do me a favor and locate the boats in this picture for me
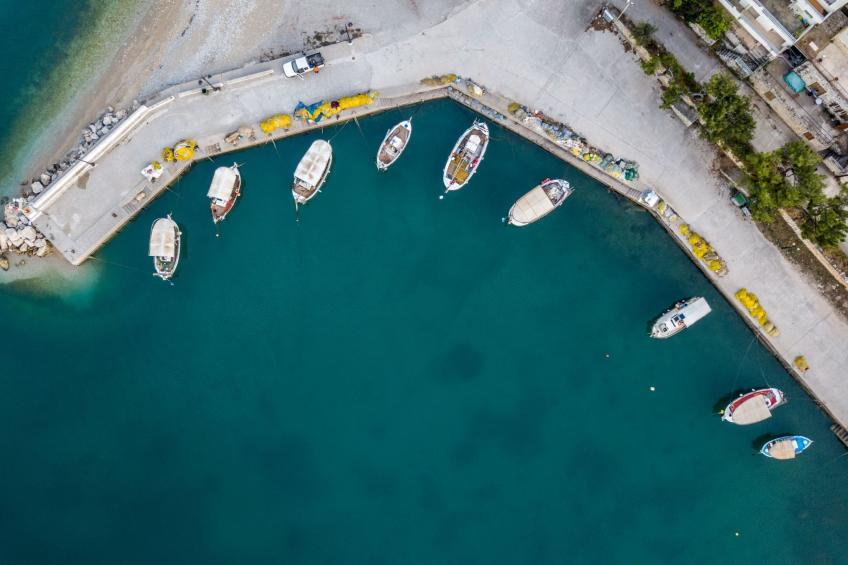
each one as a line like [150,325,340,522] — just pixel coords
[758,435,816,459]
[648,295,711,340]
[378,116,412,171]
[207,162,245,227]
[719,388,786,425]
[443,118,487,191]
[502,184,575,225]
[150,211,184,280]
[293,138,332,213]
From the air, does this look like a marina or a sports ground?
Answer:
marina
